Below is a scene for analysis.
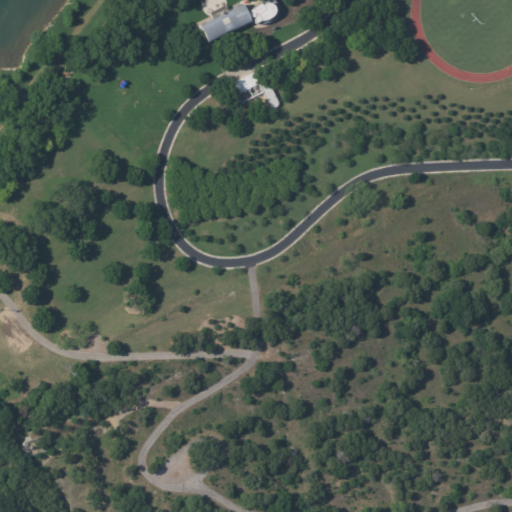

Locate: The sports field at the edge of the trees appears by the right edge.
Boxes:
[420,0,512,73]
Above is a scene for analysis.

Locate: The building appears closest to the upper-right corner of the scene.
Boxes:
[252,2,279,24]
